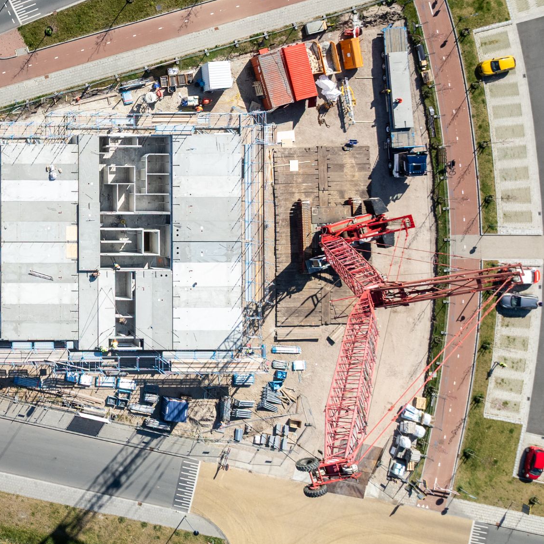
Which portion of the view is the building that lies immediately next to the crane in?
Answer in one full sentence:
The building that lies immediately next to the crane sits in the left section of the image.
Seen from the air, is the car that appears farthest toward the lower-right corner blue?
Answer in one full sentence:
No, the color of the car that appears farthest toward the lower-right corner is red.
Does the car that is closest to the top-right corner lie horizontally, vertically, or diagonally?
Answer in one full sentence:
In this picture, the car that is closest to the top-right corner lies horizontally.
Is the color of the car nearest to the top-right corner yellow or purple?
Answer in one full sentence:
The car nearest to the top-right corner is yellow.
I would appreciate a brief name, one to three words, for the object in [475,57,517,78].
car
